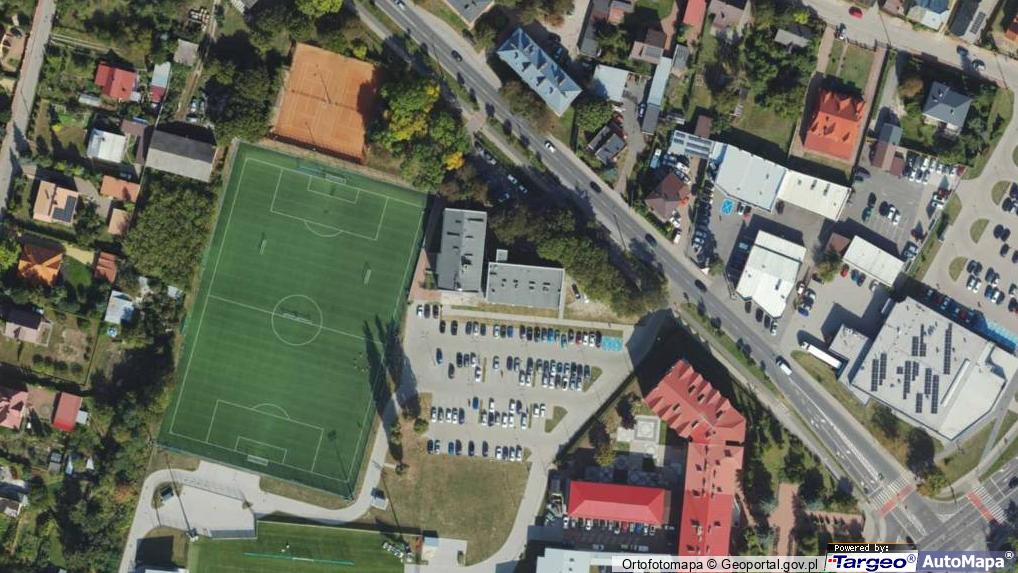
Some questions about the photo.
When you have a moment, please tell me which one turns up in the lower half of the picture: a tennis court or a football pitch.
football pitch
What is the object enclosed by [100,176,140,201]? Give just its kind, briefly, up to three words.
shed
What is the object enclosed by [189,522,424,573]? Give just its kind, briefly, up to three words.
soccer field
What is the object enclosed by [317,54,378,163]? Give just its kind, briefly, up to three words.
tennis court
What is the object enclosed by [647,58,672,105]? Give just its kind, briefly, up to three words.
building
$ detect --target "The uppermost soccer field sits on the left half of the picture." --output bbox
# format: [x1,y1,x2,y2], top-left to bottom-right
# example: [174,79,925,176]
[157,140,427,499]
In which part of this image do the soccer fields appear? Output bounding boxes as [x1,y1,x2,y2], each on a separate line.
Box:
[157,140,427,499]
[189,522,424,573]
